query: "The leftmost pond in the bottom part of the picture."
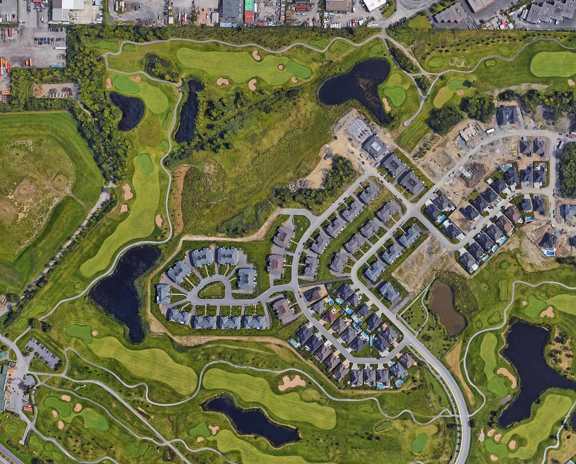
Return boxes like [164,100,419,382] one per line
[89,245,160,343]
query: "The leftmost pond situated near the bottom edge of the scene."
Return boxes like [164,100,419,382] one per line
[201,395,299,448]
